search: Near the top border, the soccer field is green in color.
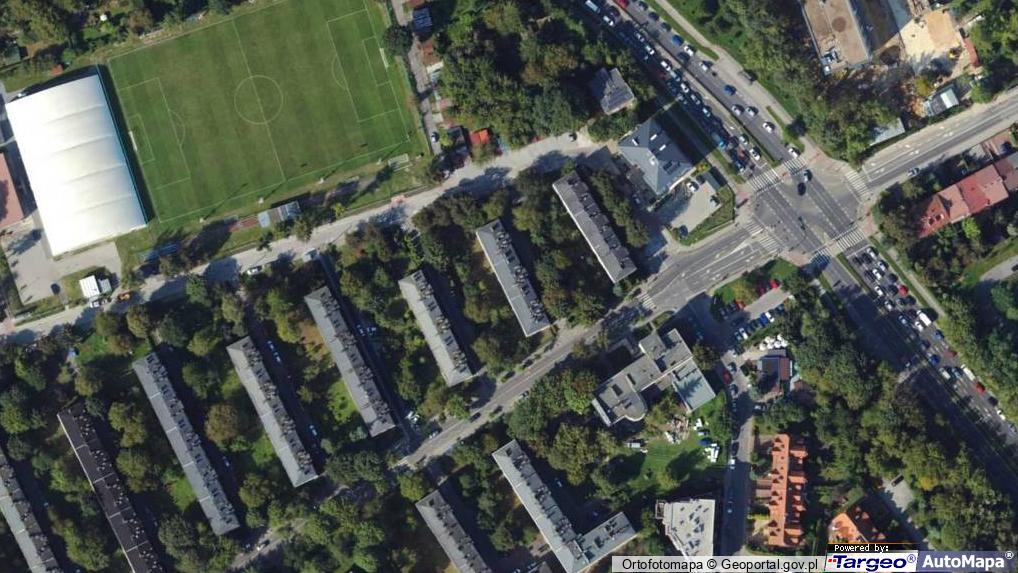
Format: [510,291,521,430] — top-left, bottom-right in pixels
[103,0,415,227]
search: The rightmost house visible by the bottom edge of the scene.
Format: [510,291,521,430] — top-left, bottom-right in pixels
[830,500,883,555]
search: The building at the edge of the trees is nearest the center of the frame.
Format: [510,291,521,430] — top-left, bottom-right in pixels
[475,221,549,338]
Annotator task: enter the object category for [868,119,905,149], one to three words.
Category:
building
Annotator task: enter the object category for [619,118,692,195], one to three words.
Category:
building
